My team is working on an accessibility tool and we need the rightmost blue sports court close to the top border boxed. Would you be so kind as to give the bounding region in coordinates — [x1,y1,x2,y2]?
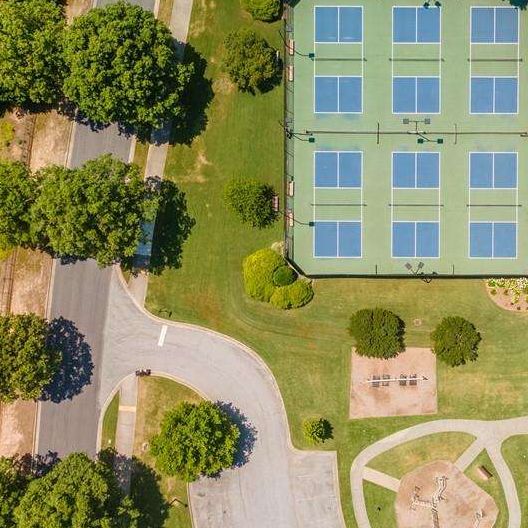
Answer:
[465,6,523,114]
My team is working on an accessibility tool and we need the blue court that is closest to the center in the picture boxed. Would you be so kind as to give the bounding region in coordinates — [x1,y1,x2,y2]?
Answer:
[309,152,366,258]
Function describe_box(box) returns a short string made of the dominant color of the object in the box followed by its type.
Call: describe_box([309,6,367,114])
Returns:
blue sports court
